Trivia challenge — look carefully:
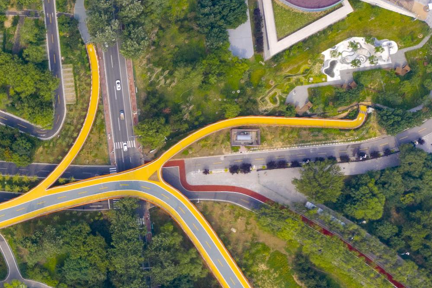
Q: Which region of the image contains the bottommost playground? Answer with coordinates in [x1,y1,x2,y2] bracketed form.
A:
[321,37,398,82]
